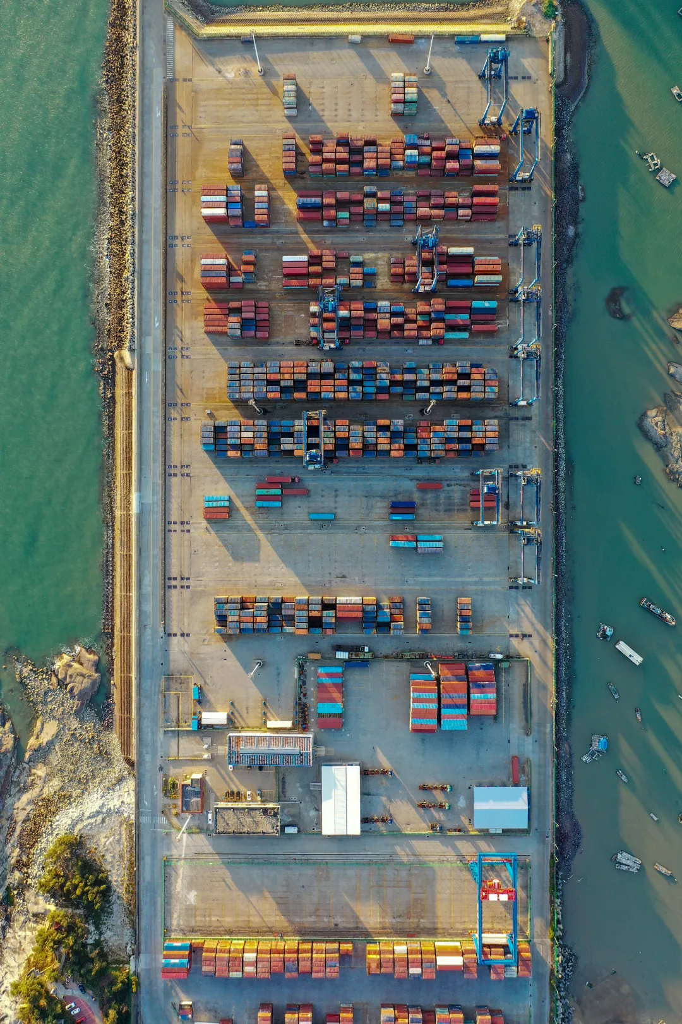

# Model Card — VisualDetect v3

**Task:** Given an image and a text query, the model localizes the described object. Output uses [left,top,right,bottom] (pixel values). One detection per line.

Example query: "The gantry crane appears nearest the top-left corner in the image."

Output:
[318,284,344,347]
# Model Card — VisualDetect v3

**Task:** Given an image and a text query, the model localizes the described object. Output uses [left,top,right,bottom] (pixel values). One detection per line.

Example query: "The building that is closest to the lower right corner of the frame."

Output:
[472,781,529,829]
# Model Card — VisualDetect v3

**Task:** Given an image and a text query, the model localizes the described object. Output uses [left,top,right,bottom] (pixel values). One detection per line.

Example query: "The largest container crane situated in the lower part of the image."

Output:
[470,855,518,961]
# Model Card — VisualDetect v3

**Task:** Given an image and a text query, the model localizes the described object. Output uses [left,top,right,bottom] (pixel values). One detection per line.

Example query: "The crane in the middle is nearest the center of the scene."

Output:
[303,408,329,468]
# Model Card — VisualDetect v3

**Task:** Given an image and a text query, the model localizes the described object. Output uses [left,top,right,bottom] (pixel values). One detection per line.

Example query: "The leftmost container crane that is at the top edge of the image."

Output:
[479,49,513,123]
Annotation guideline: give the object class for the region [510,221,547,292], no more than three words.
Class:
container crane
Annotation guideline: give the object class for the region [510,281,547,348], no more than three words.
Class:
container crane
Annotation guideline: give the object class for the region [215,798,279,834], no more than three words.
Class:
building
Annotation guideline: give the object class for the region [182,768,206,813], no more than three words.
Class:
building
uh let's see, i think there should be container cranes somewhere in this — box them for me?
[510,281,547,348]
[510,221,547,292]
[414,225,445,292]
[479,49,513,123]
[510,340,547,405]
[470,855,518,961]
[510,468,547,528]
[510,528,547,587]
[303,408,329,468]
[473,467,507,527]
[318,284,344,347]
[511,104,547,180]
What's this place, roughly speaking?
port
